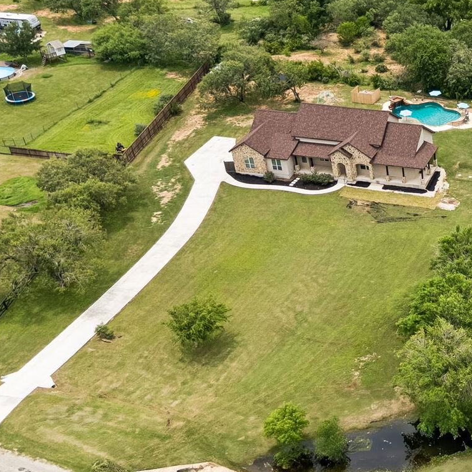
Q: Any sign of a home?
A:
Yes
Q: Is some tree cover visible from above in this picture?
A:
Yes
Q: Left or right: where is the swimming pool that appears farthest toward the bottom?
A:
right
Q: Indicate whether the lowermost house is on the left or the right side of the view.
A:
right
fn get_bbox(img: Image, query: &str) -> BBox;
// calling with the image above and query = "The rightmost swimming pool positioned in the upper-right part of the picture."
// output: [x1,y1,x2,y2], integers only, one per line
[378,89,463,126]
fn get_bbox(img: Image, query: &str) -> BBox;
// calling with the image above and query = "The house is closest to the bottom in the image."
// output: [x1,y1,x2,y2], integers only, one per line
[225,103,438,191]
